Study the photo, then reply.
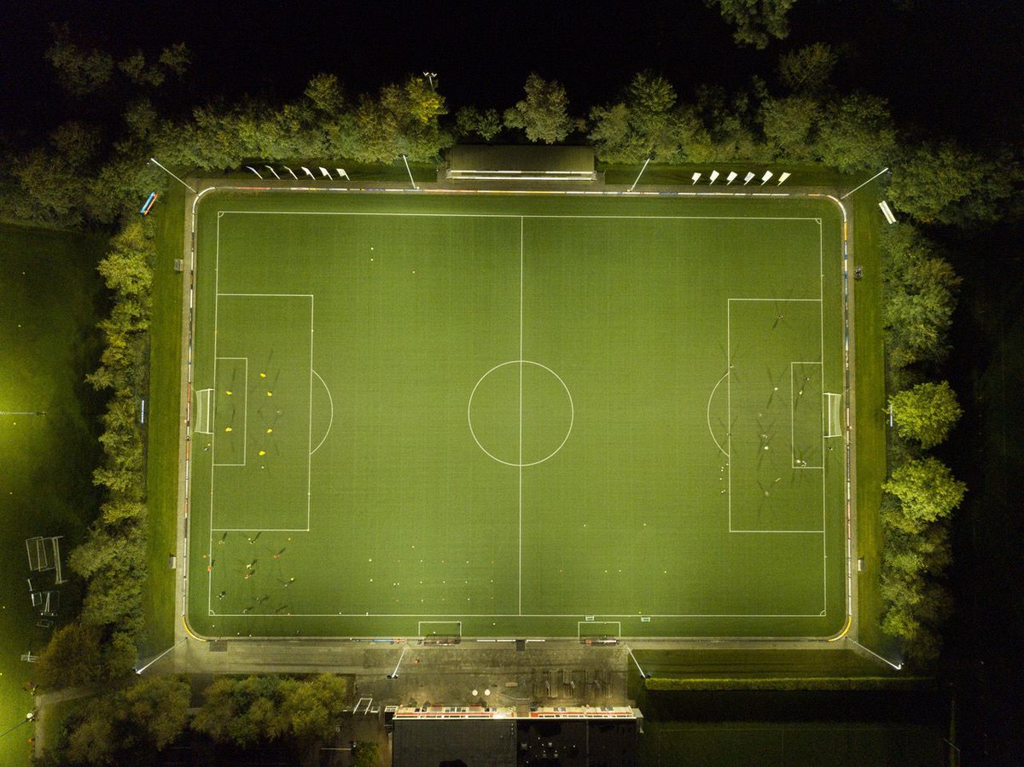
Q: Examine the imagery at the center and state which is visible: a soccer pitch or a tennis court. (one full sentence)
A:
There is a soccer pitch at the center.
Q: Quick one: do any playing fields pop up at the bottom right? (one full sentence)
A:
Yes, the scene does show a playing field at the bottom right.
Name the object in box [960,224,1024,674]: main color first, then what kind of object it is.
black sports field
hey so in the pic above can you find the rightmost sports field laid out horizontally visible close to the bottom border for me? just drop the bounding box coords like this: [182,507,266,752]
[642,717,940,767]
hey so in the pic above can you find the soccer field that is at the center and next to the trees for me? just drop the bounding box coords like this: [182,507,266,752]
[188,190,846,637]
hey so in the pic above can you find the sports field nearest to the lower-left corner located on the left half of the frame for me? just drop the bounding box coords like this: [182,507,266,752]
[0,224,108,767]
